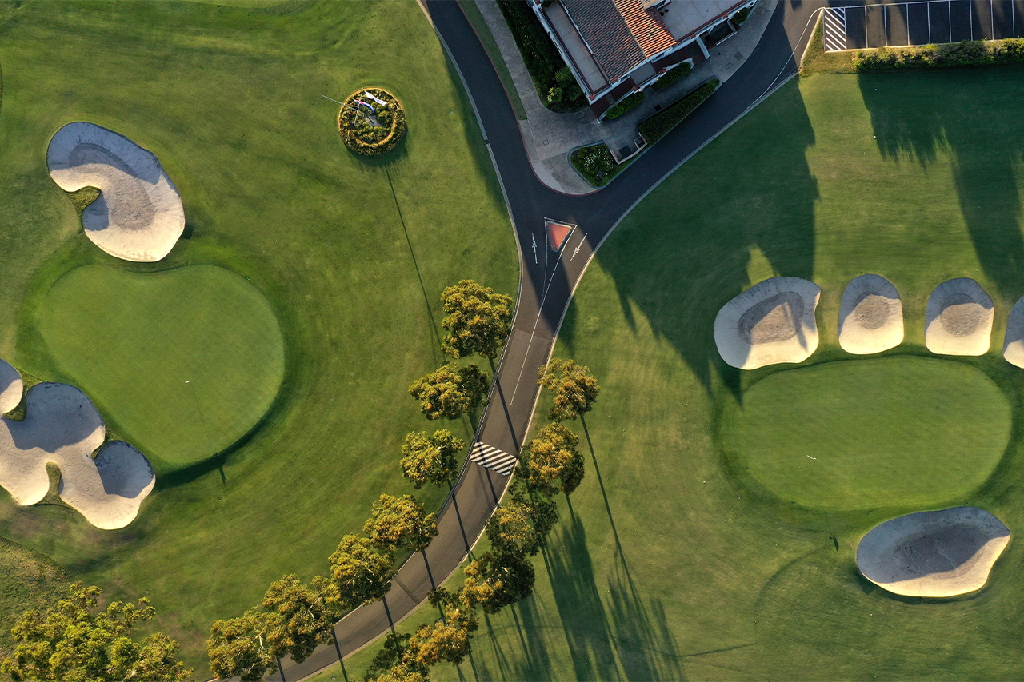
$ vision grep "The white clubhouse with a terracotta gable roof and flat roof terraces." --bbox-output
[528,0,760,122]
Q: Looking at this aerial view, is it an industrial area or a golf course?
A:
golf course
